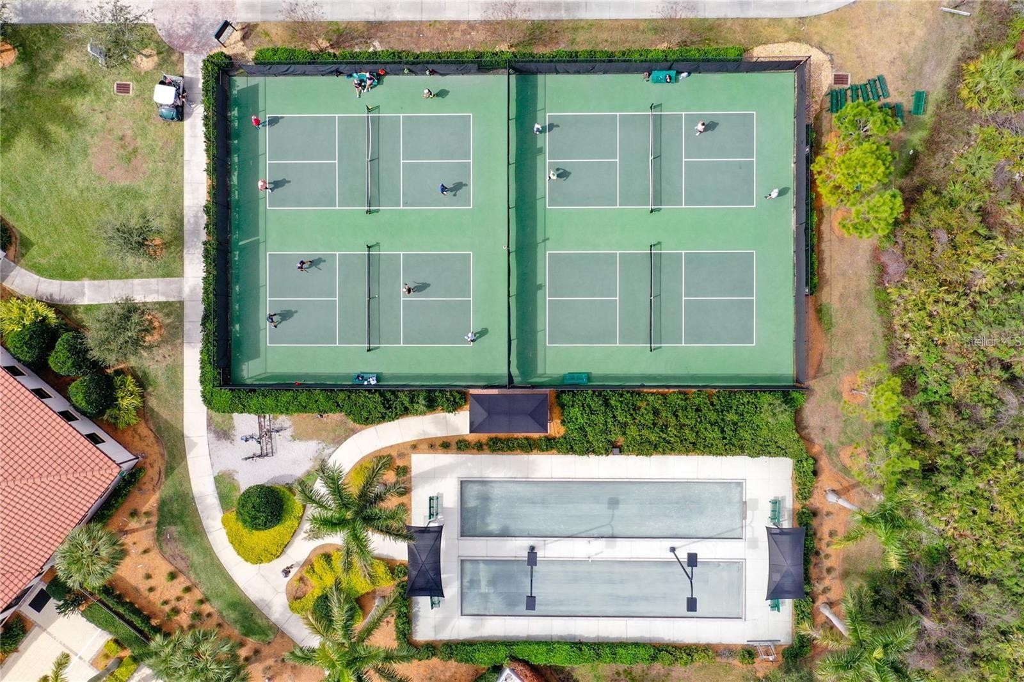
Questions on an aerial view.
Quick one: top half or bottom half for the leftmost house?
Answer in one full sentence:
It is in the bottom half that the leftmost house appears.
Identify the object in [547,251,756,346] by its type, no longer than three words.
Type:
sports court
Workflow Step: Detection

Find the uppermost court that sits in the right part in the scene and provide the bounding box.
[547,112,756,208]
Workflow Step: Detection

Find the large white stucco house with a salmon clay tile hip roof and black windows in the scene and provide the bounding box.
[0,341,139,626]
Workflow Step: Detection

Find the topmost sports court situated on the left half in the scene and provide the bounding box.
[267,113,473,209]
